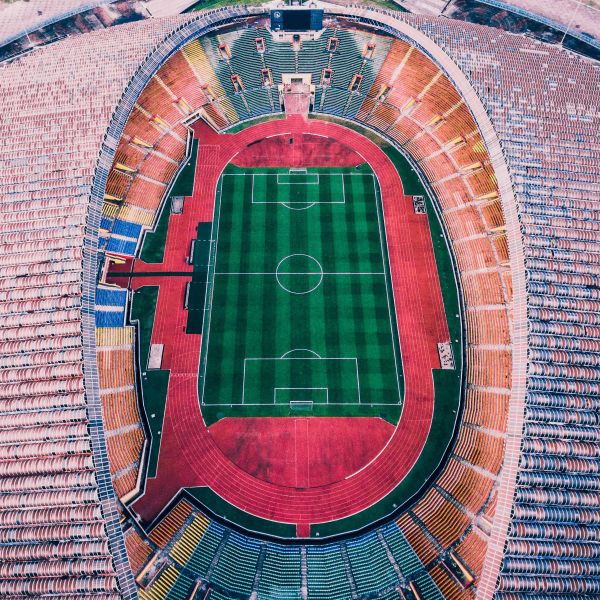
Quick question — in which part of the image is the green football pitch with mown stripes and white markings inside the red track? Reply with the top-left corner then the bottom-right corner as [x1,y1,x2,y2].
[197,163,404,451]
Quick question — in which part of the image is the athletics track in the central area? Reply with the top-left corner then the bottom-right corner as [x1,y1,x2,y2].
[121,114,450,537]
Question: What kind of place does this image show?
sports ground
